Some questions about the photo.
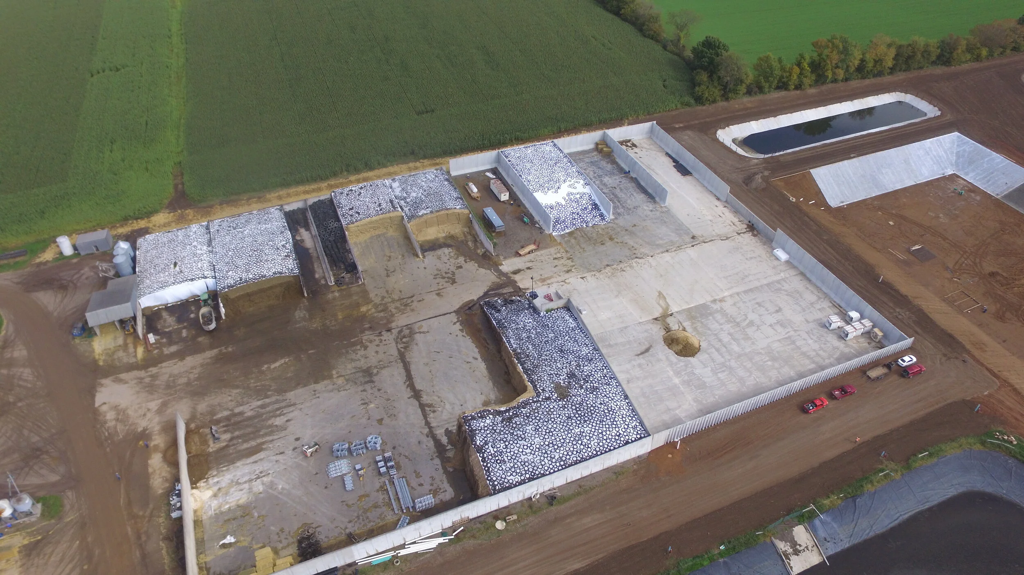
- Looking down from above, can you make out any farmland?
Yes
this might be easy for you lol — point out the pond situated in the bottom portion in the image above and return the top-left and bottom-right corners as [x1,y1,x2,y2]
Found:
[681,446,1024,575]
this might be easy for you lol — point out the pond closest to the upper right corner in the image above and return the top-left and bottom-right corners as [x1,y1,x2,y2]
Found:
[717,91,945,158]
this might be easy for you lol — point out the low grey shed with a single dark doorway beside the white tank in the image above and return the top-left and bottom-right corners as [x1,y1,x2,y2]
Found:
[75,227,110,255]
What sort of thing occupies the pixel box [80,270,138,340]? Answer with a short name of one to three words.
shed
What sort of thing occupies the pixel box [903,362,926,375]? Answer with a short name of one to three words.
vehicle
